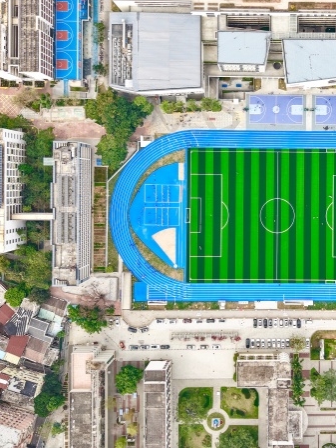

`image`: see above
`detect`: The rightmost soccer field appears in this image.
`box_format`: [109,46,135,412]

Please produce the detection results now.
[187,148,336,283]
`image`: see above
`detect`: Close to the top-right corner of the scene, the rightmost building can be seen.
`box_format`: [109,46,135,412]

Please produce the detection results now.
[283,40,336,88]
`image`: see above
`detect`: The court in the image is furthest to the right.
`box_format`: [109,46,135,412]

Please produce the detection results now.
[313,93,336,129]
